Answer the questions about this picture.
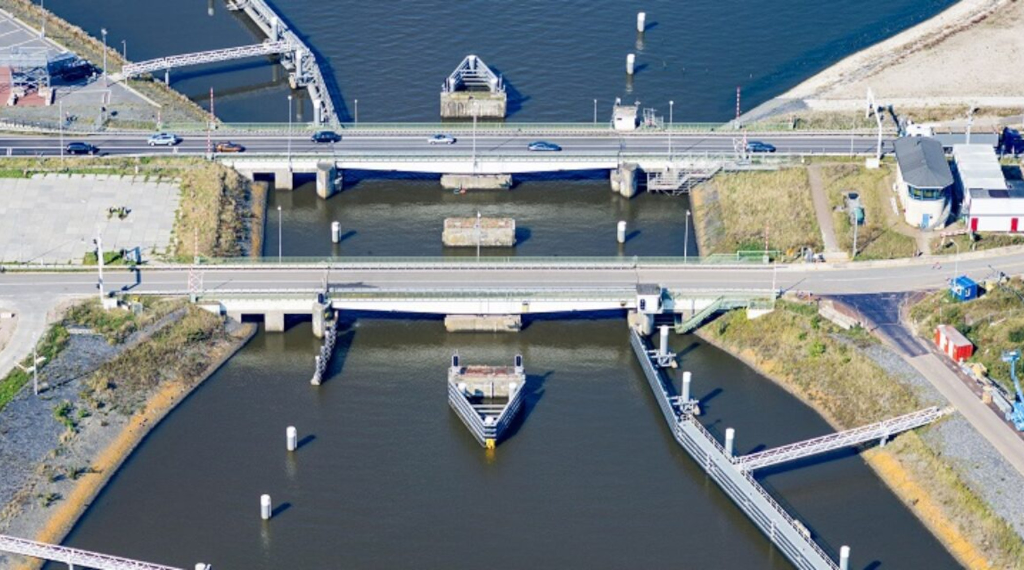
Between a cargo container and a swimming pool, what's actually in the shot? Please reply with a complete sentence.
Visible in the photo is a cargo container.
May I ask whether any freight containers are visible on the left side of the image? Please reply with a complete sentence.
No, I can find no freight container on the left side of the image.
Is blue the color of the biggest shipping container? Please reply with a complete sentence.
No, from above the biggest shipping container looks white.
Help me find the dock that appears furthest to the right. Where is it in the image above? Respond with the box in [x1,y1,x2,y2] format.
[676,411,859,570]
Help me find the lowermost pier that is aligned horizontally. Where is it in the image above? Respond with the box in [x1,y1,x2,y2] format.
[448,366,525,396]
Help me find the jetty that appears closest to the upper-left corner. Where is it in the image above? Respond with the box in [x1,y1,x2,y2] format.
[224,0,342,126]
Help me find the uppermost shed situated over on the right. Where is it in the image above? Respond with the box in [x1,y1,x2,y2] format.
[610,87,645,126]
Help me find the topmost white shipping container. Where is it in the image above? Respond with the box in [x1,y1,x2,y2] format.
[931,321,972,361]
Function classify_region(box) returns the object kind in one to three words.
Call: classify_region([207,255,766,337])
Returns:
bridge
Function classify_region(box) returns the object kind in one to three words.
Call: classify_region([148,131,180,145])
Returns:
car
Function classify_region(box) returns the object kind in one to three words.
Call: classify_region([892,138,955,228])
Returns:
building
